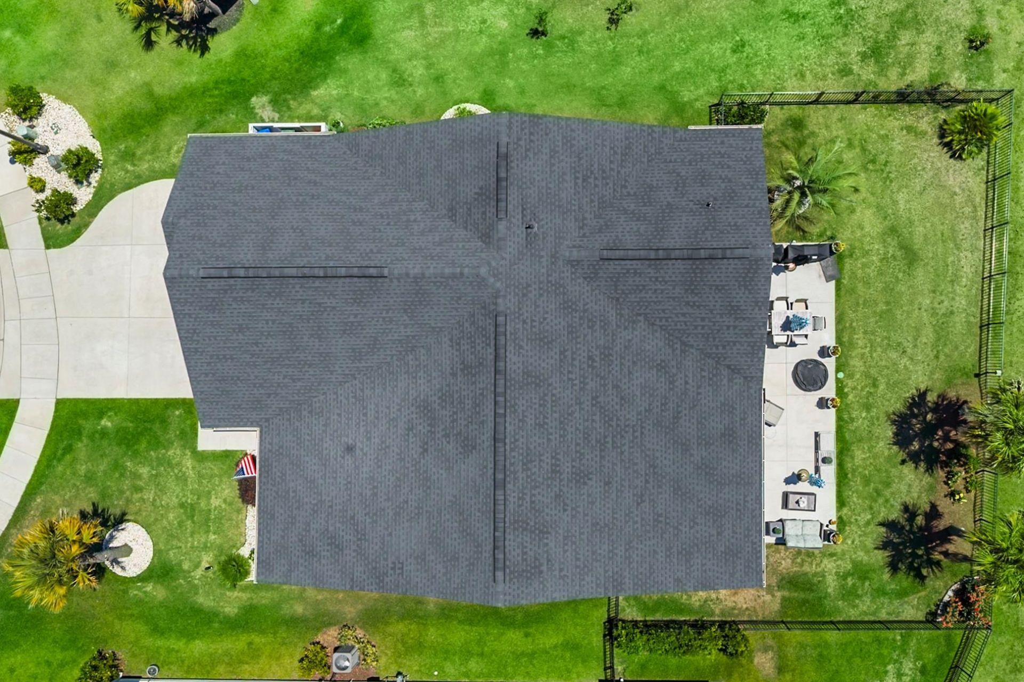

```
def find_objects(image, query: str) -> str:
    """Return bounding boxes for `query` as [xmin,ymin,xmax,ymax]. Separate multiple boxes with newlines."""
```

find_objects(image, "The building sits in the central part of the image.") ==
[163,112,772,607]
